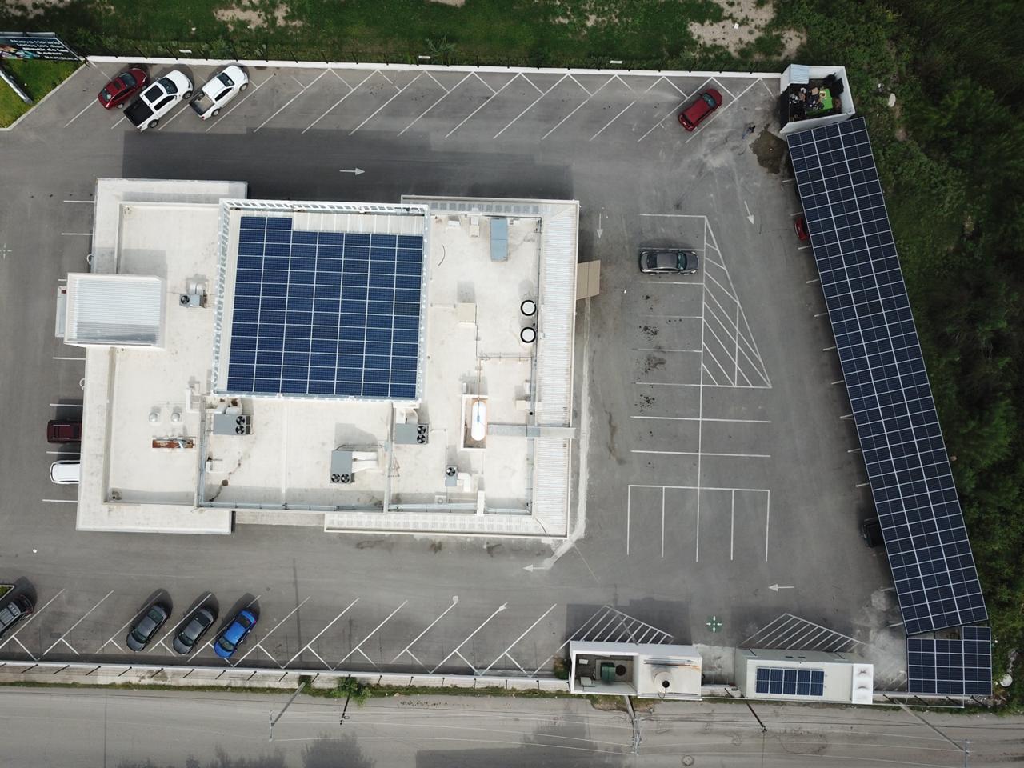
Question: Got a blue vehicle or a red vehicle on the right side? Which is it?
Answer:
red vehicle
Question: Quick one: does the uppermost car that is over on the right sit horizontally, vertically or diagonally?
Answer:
diagonally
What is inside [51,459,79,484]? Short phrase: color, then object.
white car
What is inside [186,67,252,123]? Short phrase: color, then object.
white truck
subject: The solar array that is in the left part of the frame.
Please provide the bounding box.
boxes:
[228,217,423,397]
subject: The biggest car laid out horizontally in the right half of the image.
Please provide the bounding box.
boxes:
[639,246,699,275]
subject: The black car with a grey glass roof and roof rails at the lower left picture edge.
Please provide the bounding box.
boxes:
[0,594,38,645]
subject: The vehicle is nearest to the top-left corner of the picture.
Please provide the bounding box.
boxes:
[96,67,151,112]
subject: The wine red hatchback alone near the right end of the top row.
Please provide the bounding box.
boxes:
[676,88,724,133]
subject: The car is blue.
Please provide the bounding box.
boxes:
[213,606,261,660]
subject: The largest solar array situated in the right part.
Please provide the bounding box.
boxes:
[753,668,826,696]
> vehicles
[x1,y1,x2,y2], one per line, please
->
[186,67,252,123]
[127,599,174,652]
[51,459,79,484]
[0,594,38,645]
[122,71,196,134]
[639,246,699,275]
[174,601,220,654]
[47,419,81,444]
[676,88,724,133]
[213,606,261,660]
[96,67,151,112]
